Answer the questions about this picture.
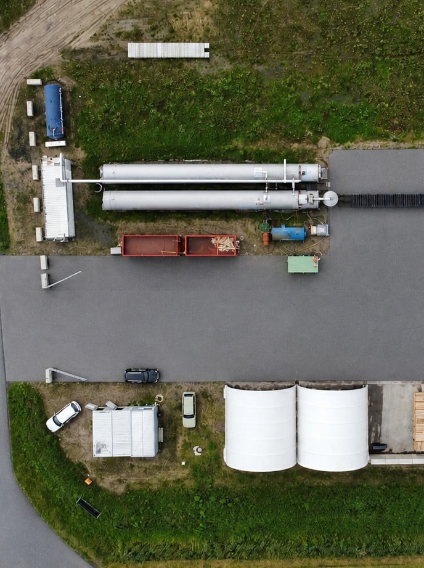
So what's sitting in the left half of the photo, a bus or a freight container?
freight container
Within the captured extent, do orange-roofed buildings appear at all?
No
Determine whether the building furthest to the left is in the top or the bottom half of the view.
bottom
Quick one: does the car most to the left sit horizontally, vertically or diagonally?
diagonally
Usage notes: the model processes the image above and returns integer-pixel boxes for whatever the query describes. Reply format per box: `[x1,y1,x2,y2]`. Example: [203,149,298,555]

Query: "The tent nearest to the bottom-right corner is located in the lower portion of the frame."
[298,386,369,472]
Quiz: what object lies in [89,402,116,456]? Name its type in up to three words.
building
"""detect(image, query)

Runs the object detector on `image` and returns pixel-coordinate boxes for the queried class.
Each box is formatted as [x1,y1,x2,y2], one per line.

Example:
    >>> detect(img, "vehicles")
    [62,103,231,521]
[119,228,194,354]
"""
[180,391,197,428]
[125,367,160,385]
[46,400,82,432]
